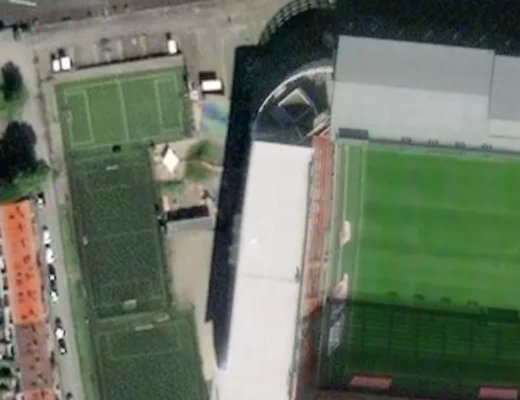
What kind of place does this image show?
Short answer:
sports ground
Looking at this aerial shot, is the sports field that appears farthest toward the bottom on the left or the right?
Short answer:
left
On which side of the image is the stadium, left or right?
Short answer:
right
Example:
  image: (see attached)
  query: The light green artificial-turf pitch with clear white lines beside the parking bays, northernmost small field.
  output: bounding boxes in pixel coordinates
[57,67,191,152]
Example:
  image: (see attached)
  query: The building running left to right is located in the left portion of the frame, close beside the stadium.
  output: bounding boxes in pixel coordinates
[166,217,212,237]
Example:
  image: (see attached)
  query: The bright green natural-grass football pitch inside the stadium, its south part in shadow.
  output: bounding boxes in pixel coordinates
[318,140,520,391]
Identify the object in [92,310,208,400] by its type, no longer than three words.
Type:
sports field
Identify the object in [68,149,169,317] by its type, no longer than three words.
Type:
sports field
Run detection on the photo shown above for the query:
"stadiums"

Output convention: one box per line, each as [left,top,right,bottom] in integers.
[213,29,520,400]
